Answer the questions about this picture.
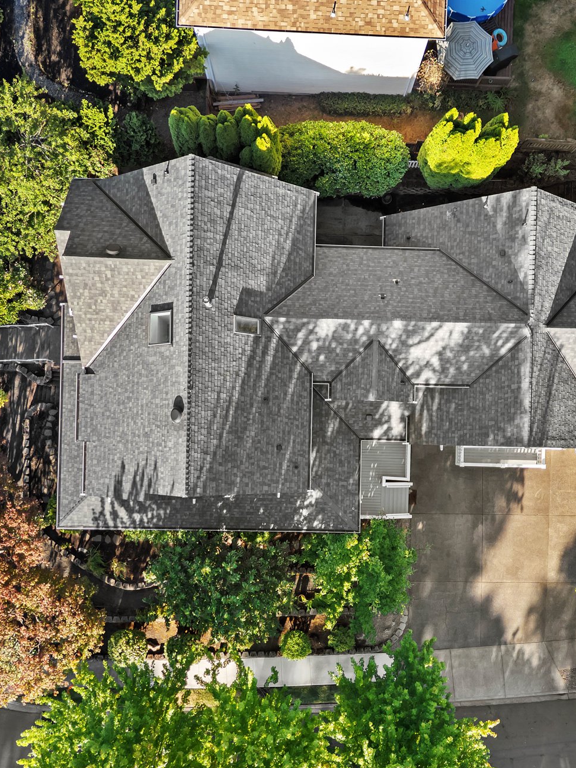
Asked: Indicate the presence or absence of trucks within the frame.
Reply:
No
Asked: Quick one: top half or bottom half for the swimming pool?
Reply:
top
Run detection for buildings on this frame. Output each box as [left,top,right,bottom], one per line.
[172,0,451,97]
[52,154,576,538]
